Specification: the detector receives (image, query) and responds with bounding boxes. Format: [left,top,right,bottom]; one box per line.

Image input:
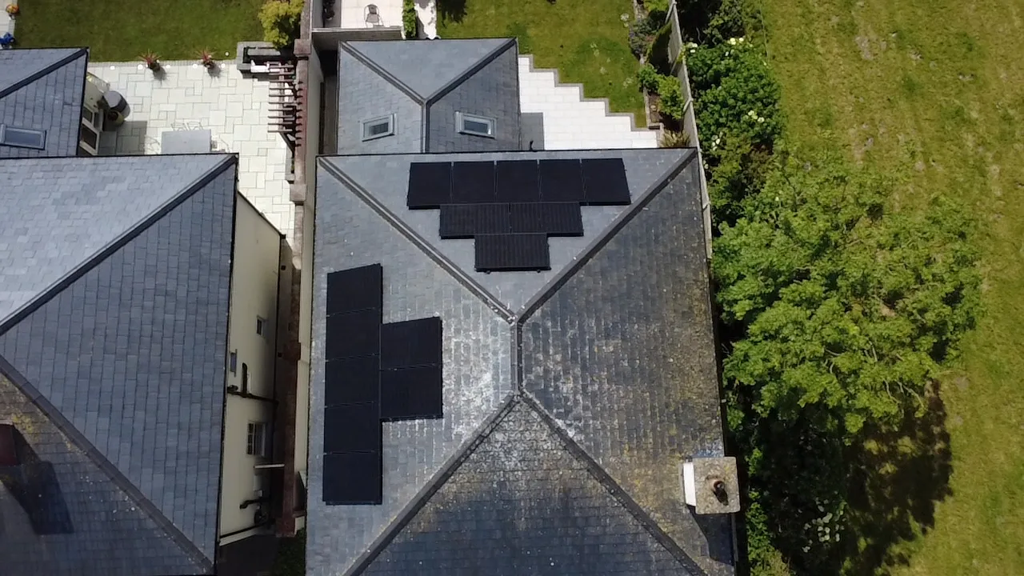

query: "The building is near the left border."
[0,43,284,576]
